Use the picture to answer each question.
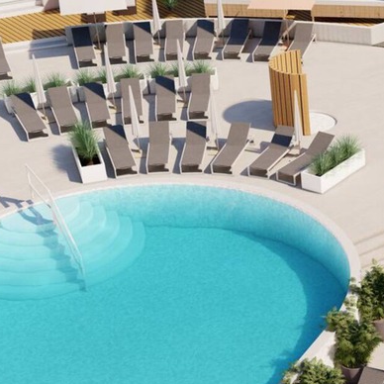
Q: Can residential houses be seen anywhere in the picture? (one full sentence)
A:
No, the frame has no residential house in it.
